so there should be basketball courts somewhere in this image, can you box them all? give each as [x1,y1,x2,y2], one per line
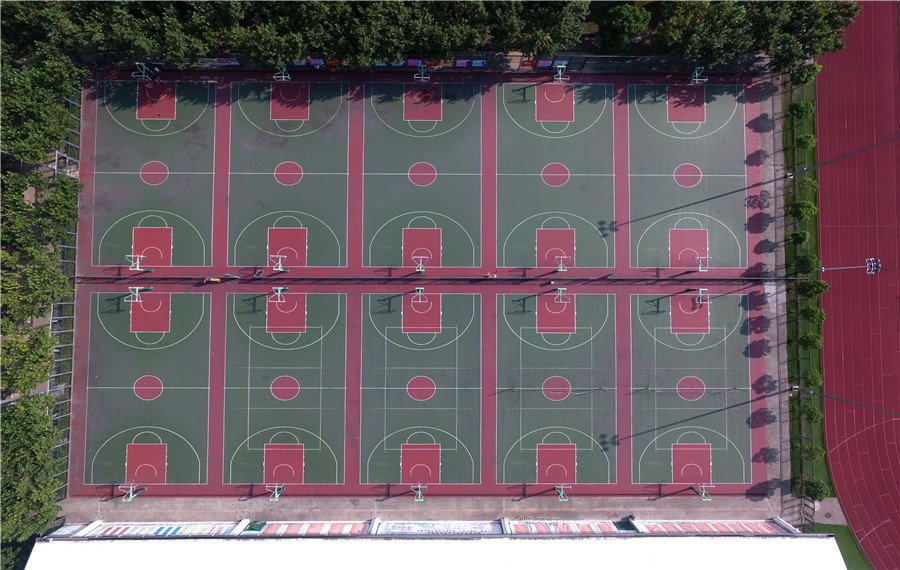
[222,292,347,484]
[227,82,349,267]
[497,293,617,484]
[362,83,482,267]
[359,293,482,484]
[84,292,212,484]
[496,83,616,268]
[630,294,752,484]
[91,80,216,266]
[627,84,748,268]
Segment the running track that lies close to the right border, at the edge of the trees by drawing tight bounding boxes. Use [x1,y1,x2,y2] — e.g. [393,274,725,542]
[814,0,900,570]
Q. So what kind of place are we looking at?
sports ground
